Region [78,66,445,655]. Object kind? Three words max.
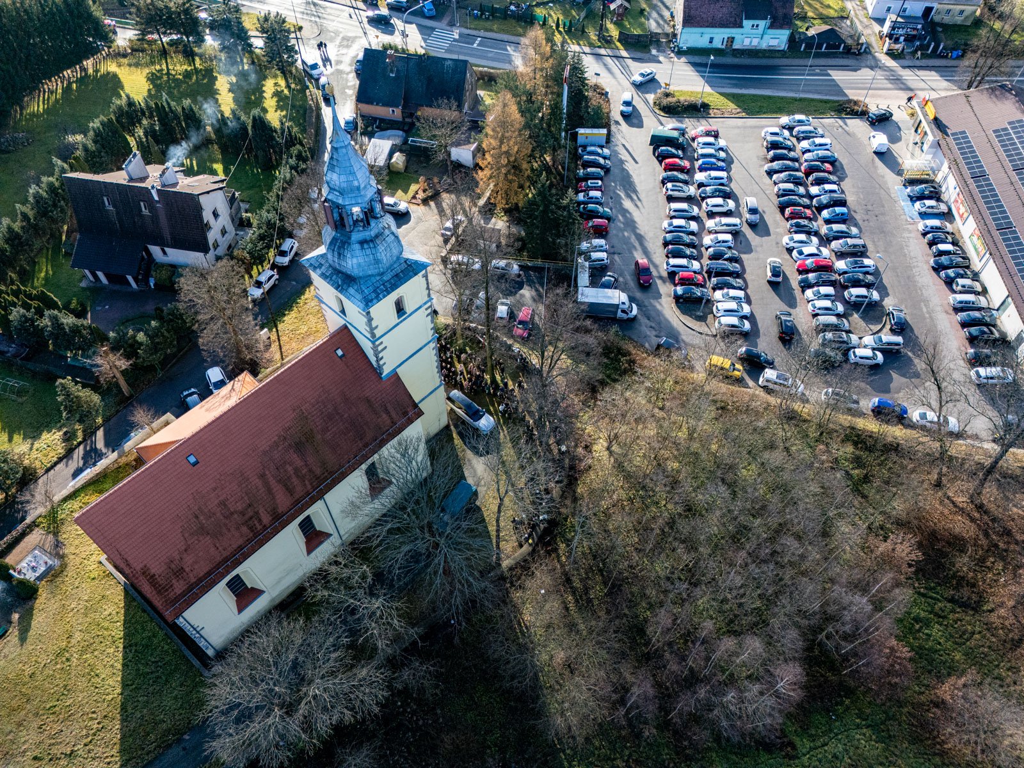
church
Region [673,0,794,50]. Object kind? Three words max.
house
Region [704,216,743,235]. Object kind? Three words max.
car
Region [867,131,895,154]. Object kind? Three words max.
vehicle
